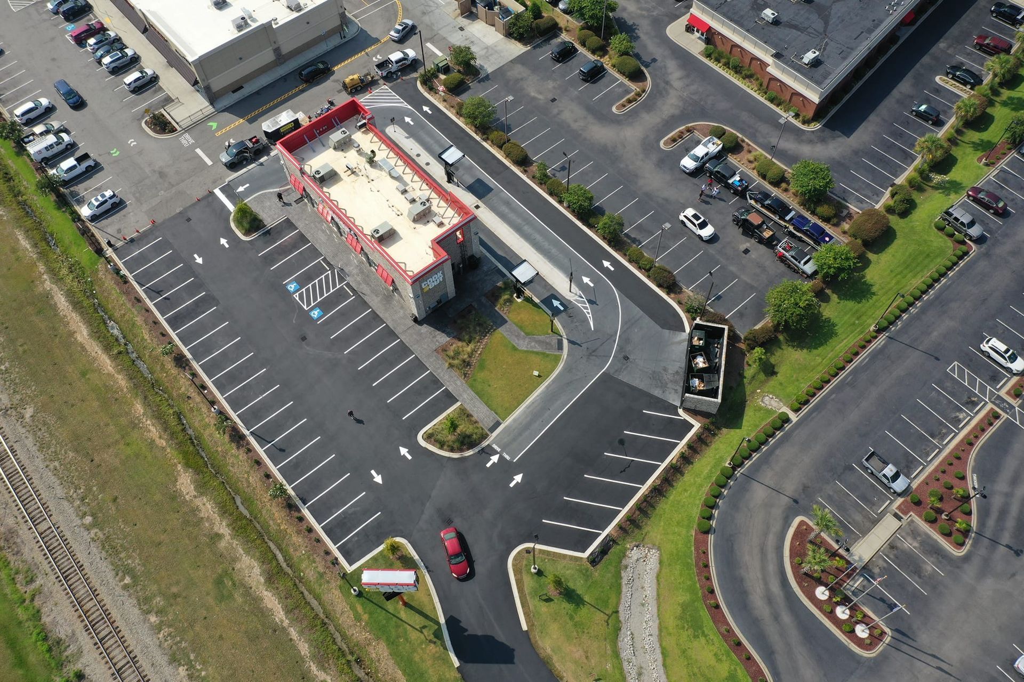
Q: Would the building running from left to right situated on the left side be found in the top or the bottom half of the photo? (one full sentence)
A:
It is in the top half that the building running from left to right situated on the left side appears.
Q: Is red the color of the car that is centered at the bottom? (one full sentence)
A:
Yes, the car that is centered at the bottom is red.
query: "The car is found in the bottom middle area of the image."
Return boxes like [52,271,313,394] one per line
[441,525,469,580]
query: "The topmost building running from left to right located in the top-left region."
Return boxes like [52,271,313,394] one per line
[107,0,366,107]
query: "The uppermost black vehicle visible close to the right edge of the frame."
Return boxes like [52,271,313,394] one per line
[990,4,1024,27]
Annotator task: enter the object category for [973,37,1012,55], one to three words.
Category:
car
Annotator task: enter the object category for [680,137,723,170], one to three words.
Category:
truck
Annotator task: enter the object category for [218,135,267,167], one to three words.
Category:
truck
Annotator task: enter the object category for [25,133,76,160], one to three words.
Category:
vehicle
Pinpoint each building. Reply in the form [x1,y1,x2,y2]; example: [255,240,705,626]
[680,0,927,118]
[107,0,366,107]
[276,101,480,321]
